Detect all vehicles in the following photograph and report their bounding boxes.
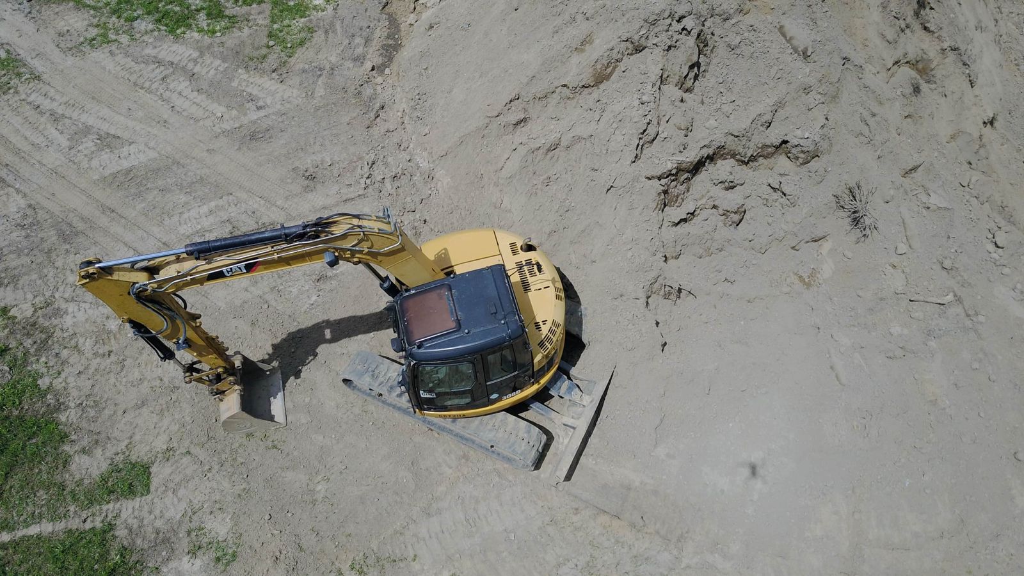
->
[69,183,621,486]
